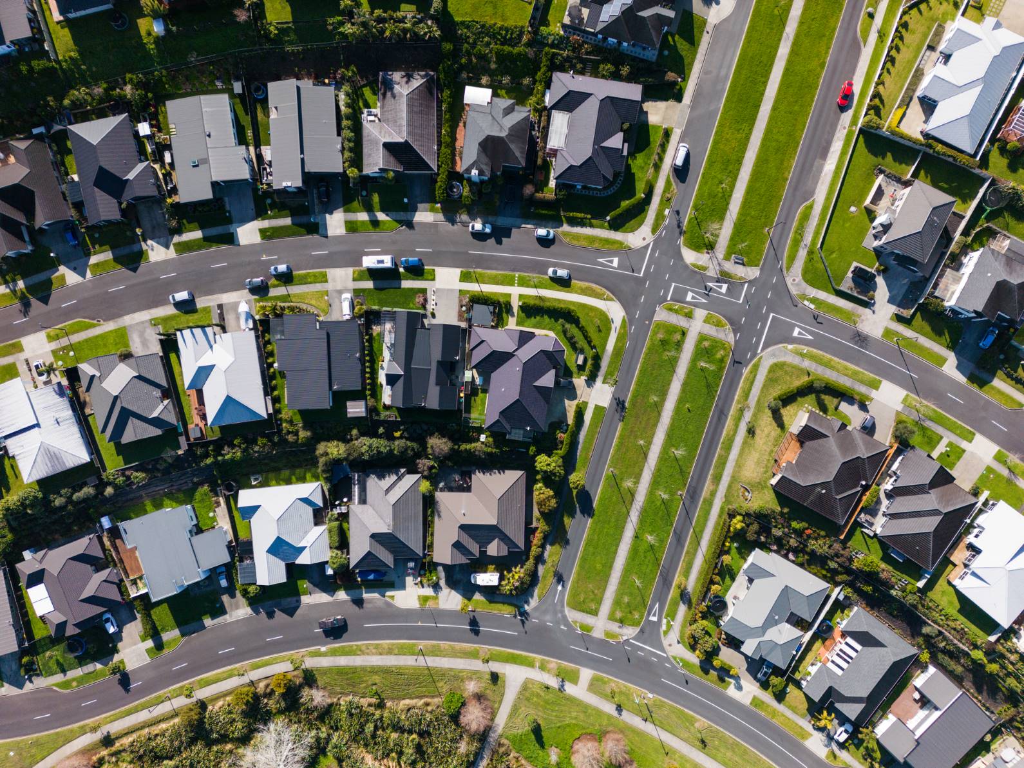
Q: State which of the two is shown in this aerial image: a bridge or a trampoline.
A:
trampoline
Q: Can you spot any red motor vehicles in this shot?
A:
Yes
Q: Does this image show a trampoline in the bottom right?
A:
Yes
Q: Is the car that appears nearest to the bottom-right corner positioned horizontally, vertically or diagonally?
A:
diagonally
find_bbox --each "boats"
[238,299,253,331]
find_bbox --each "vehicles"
[857,409,875,434]
[832,717,854,745]
[468,224,492,234]
[244,277,268,290]
[471,571,499,586]
[363,255,396,269]
[533,229,555,240]
[835,82,854,107]
[268,263,293,275]
[341,294,353,318]
[672,143,688,170]
[102,610,119,636]
[317,615,347,631]
[399,256,423,268]
[756,660,773,685]
[171,292,194,304]
[554,376,578,388]
[850,264,876,281]
[546,268,571,279]
[32,358,49,382]
[216,565,231,589]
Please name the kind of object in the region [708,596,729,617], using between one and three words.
trampoline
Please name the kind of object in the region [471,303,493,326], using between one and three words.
shed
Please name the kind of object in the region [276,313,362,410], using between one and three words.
house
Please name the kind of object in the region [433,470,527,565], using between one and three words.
house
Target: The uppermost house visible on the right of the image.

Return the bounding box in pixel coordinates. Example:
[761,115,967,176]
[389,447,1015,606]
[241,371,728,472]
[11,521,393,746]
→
[562,0,676,57]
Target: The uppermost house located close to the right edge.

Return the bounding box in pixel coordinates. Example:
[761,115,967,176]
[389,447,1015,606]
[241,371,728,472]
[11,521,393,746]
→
[914,15,1024,154]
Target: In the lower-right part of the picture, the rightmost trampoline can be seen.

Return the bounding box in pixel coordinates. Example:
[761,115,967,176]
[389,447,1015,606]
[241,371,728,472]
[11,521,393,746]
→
[817,620,838,641]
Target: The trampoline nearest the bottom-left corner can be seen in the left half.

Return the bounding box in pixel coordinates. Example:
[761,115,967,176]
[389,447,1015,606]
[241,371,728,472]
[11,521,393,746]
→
[60,637,86,659]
